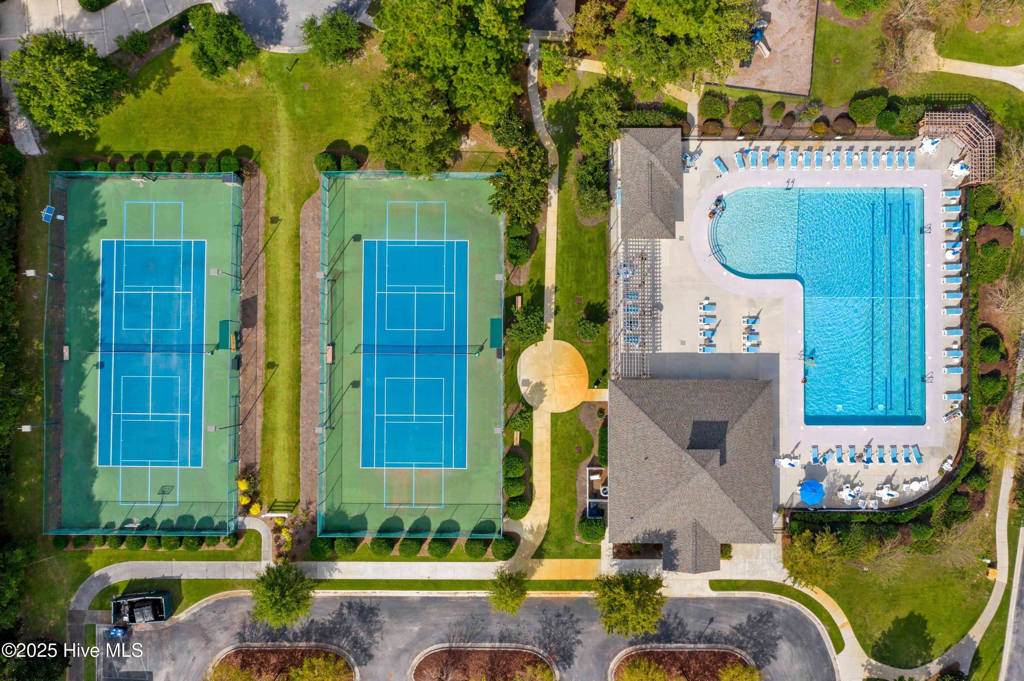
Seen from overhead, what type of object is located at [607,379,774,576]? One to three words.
building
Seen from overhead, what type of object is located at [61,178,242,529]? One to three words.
sports court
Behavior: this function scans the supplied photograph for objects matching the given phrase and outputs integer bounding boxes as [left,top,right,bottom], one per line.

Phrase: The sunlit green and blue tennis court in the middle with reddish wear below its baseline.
[324,179,504,531]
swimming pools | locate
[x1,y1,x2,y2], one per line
[708,181,932,431]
